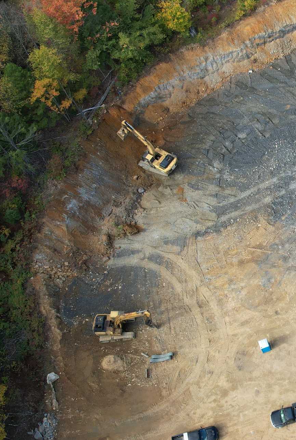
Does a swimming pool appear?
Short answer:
No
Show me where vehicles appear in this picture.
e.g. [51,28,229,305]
[84,313,154,343]
[269,402,296,428]
[170,426,219,440]
[124,122,182,176]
